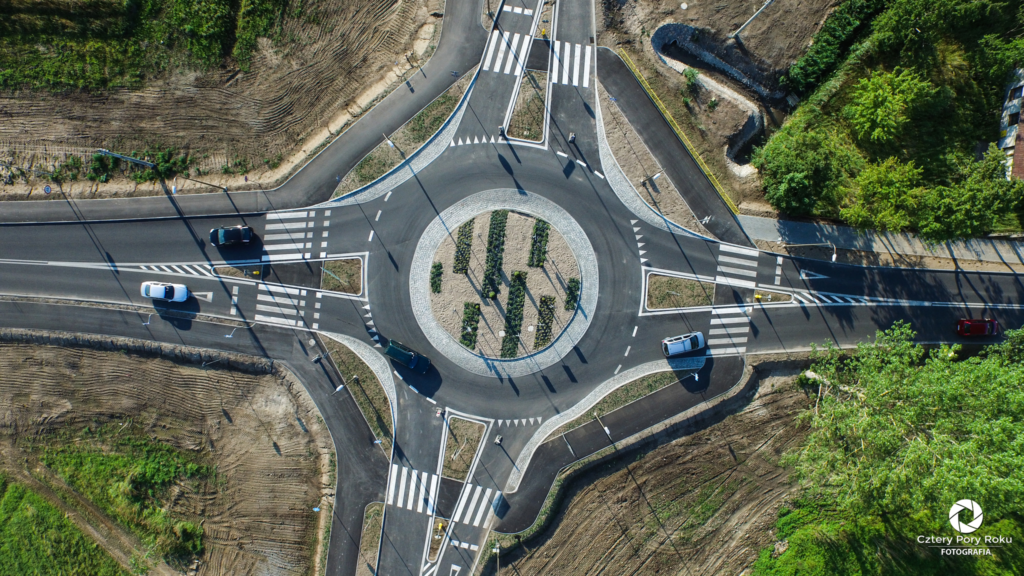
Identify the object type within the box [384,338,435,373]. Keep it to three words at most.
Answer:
car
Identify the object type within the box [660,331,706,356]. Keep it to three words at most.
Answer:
car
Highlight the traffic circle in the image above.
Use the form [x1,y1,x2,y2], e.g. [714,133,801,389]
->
[305,70,721,494]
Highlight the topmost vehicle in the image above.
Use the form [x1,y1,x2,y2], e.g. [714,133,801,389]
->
[208,225,255,248]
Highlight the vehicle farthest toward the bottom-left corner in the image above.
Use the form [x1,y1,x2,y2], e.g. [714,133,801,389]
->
[139,280,192,304]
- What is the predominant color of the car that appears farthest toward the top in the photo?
black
